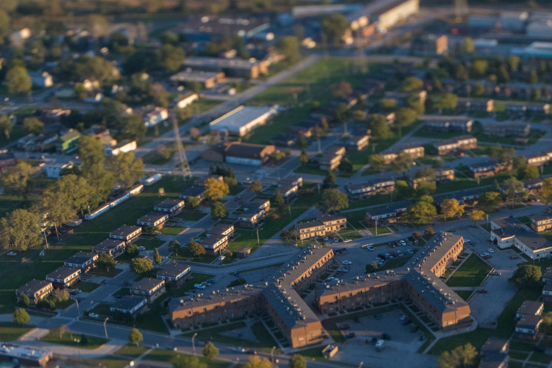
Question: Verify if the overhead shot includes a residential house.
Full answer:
Yes, the picture does show a residential house.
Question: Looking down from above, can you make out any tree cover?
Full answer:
Yes, tree cover shows up in the scene.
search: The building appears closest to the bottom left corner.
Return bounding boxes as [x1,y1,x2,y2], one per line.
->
[0,341,55,368]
